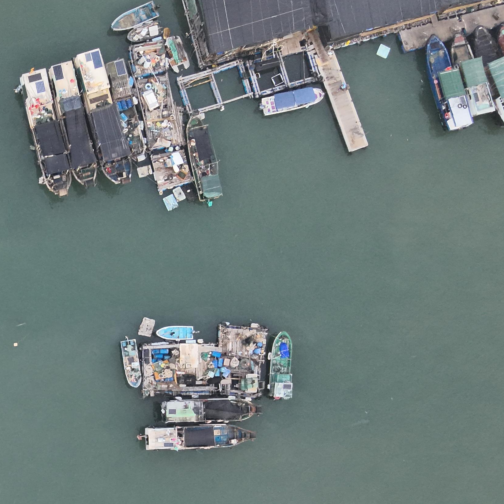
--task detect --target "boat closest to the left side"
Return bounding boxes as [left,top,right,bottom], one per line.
[13,68,72,197]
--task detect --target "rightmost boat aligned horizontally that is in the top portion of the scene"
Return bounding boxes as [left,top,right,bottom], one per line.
[258,87,325,117]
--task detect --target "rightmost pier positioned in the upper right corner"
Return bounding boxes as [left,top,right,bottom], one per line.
[462,5,504,35]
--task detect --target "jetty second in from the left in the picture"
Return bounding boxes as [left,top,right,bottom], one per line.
[395,14,465,55]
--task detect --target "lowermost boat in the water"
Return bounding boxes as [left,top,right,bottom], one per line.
[136,424,258,450]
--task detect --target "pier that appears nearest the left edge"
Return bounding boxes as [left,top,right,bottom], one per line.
[307,26,368,154]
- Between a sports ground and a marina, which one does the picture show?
marina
